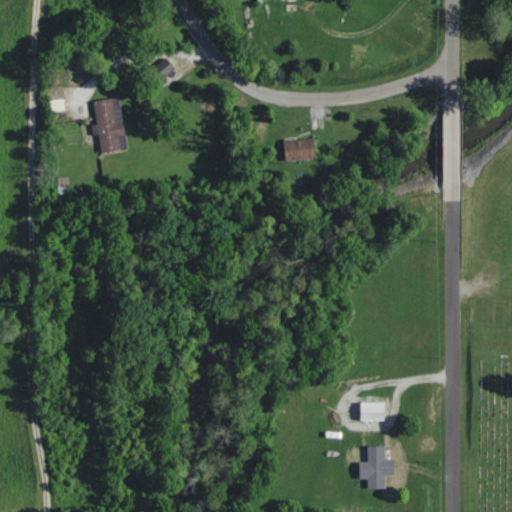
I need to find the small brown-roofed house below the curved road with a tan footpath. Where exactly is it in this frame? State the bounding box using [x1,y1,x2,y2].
[284,138,316,163]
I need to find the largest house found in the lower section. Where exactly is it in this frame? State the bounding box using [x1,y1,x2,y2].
[360,446,394,490]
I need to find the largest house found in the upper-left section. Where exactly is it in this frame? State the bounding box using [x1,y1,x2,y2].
[94,100,127,156]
